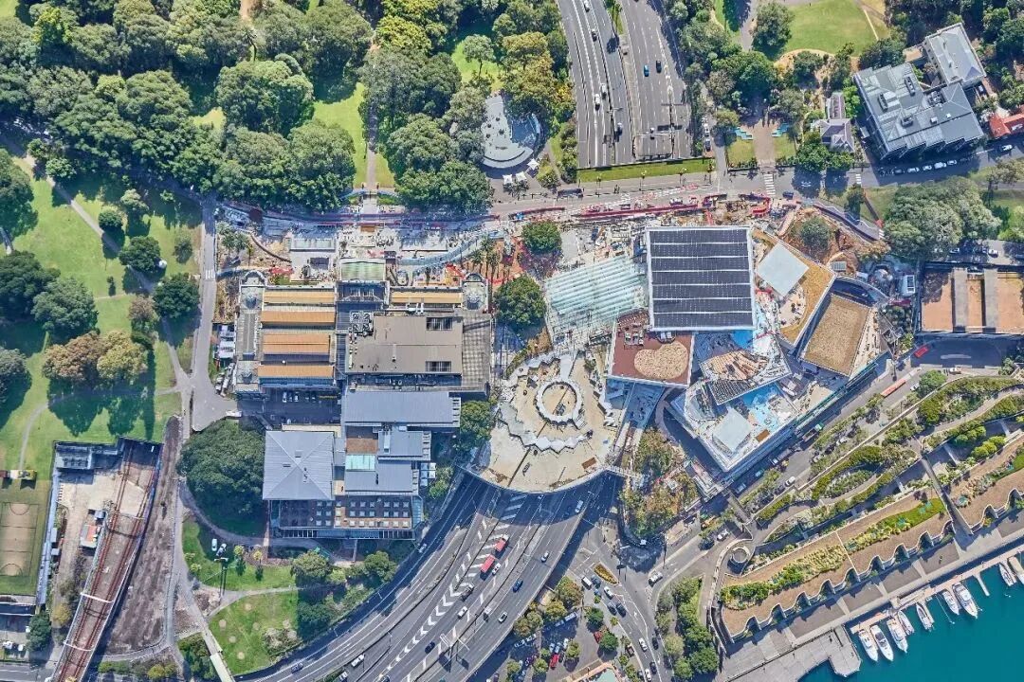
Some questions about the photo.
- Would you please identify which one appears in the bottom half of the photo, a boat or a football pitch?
boat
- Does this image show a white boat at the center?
No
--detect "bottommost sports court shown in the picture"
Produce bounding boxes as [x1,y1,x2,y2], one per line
[0,479,45,596]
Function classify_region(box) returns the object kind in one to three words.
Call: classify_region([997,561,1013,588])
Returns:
boat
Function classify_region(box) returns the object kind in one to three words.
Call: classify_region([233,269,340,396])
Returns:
building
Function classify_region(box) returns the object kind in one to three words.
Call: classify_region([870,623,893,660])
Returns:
boat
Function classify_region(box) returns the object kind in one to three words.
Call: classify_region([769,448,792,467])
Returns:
vehicle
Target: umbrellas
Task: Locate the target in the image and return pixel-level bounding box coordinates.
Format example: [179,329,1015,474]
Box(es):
[501,172,513,185]
[514,170,527,182]
[525,156,541,171]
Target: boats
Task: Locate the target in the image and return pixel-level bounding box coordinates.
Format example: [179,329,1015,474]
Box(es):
[997,561,1013,588]
[896,607,914,635]
[942,589,958,615]
[914,602,932,632]
[870,623,893,660]
[952,579,975,618]
[886,615,908,652]
[1007,552,1024,584]
[858,627,877,658]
